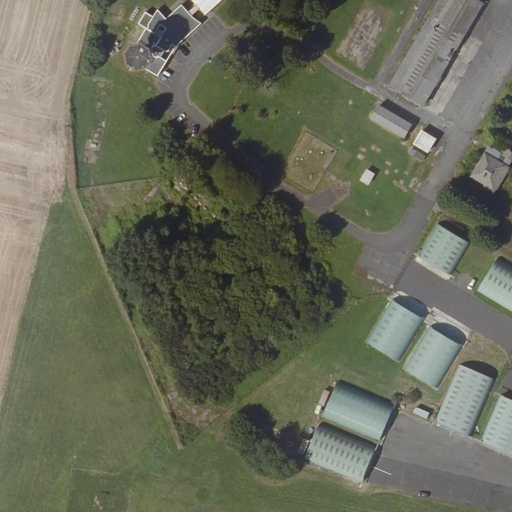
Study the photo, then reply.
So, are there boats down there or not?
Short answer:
No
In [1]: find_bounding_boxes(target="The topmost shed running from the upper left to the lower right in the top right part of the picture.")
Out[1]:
[370,105,413,139]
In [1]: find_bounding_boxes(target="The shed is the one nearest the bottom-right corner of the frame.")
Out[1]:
[482,396,512,454]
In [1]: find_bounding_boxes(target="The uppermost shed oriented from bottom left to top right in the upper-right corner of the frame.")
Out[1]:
[388,0,488,106]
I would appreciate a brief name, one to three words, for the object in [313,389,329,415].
vehicle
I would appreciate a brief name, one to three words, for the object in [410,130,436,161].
building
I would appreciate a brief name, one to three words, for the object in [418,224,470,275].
shed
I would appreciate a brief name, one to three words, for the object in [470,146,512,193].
house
